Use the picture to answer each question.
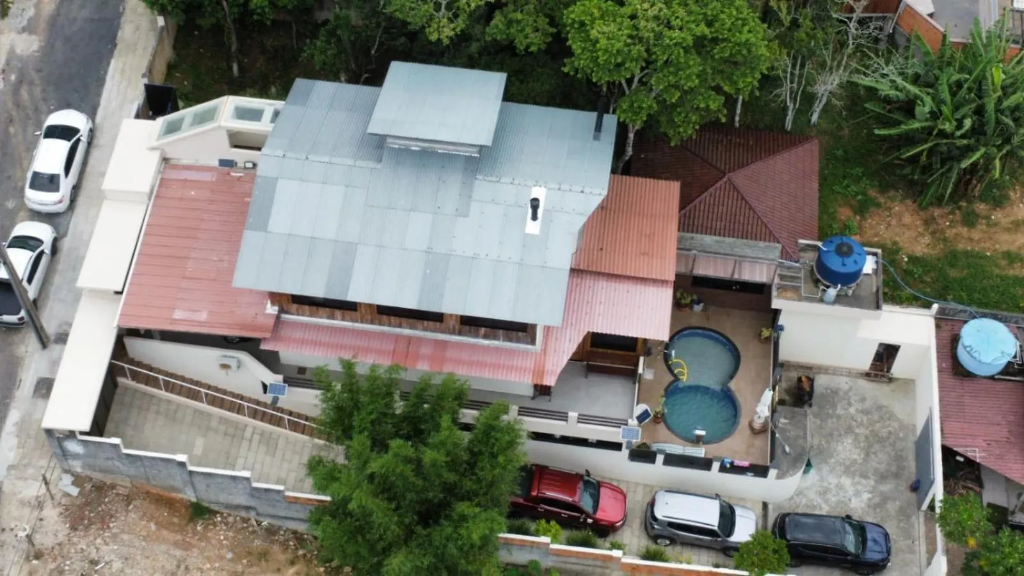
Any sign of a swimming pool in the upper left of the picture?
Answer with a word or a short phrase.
No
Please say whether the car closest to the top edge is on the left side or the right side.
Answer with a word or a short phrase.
left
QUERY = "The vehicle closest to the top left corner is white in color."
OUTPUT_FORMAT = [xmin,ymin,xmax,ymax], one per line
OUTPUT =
[20,114,92,215]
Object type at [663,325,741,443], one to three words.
swimming pool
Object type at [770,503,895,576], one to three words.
car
